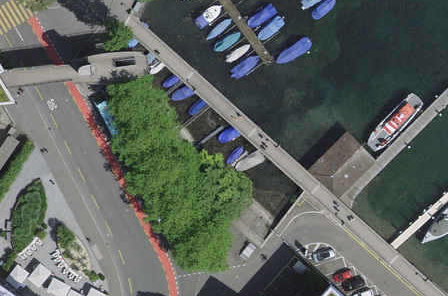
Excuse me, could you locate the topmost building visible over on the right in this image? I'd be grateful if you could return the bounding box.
[308,130,376,198]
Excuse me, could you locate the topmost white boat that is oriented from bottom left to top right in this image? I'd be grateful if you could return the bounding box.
[194,5,220,28]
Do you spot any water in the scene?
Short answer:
Yes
